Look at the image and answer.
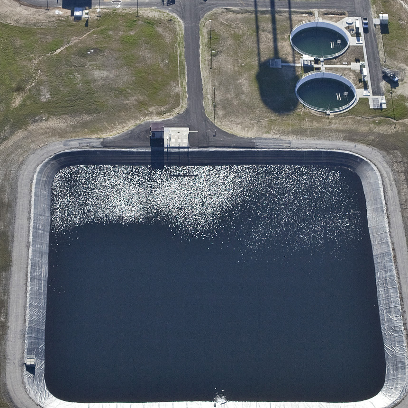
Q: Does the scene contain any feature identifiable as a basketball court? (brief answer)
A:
No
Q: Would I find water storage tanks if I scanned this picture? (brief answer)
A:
Yes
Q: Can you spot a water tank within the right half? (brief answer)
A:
Yes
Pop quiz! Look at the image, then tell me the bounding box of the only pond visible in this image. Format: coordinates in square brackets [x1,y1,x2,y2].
[22,148,408,408]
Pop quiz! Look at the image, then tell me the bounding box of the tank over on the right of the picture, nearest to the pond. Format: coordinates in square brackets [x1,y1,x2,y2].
[293,70,362,117]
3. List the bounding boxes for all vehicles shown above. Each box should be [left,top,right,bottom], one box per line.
[362,19,370,32]
[378,66,403,82]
